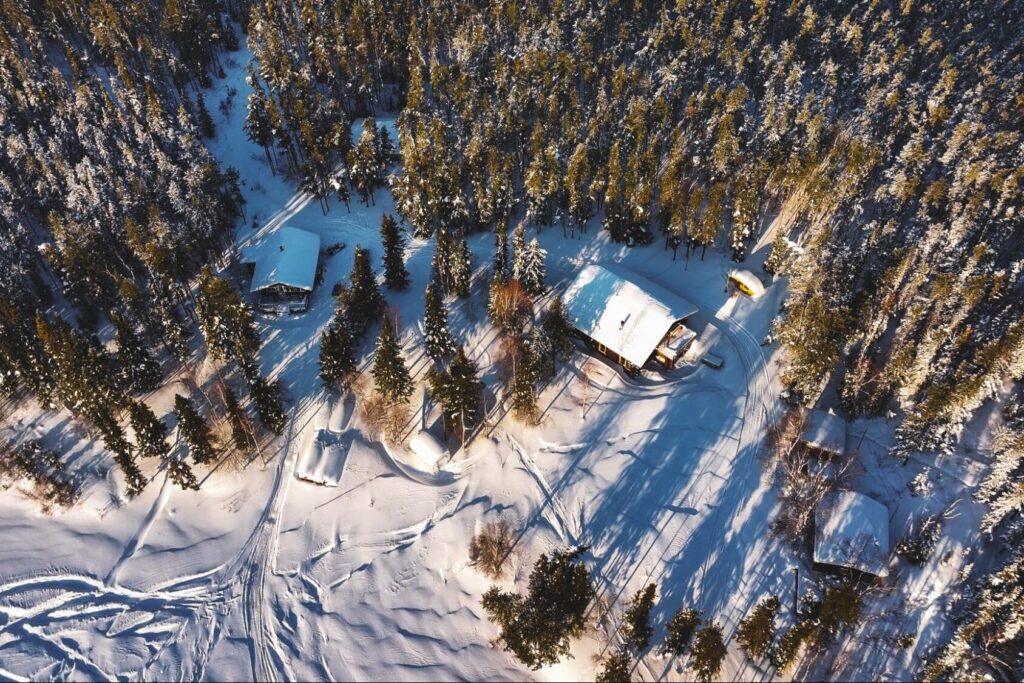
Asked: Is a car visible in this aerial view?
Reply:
No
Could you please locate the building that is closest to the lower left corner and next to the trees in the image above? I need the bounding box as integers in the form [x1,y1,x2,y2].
[288,428,352,488]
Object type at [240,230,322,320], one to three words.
building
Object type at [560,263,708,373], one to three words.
building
